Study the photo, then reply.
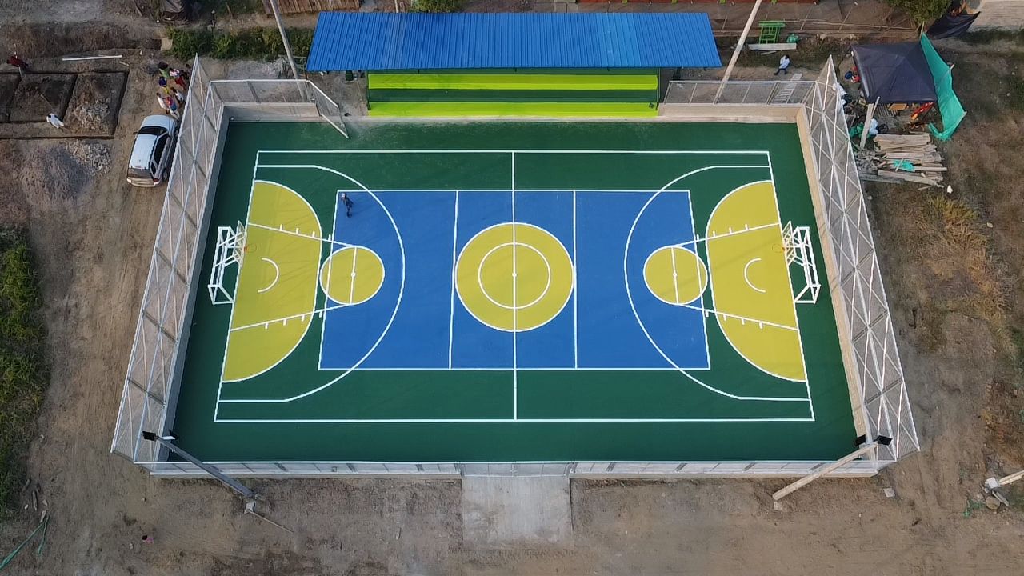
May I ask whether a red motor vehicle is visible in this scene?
No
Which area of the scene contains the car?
top left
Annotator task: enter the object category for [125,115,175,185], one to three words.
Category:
car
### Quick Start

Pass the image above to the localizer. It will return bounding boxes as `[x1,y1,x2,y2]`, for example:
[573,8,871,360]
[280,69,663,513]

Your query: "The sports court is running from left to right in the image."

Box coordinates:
[165,116,863,467]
